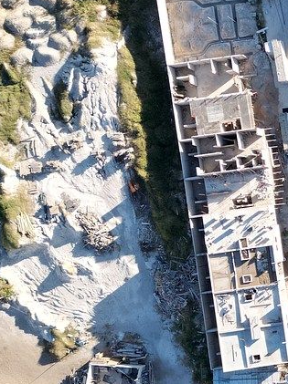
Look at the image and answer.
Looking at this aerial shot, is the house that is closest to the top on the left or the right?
right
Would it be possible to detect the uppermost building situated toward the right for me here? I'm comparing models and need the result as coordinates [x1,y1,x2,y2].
[177,56,261,103]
